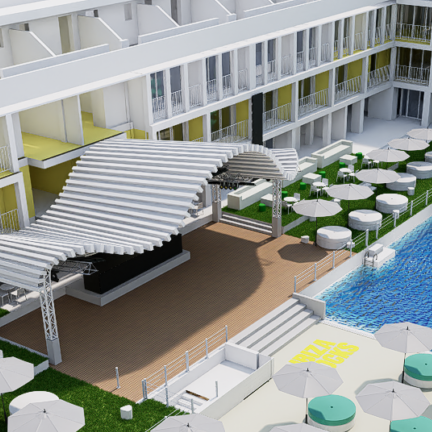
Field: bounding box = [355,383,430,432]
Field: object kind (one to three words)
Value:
umbrella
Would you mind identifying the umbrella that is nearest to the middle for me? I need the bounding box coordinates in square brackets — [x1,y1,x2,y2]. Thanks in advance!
[292,201,343,247]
